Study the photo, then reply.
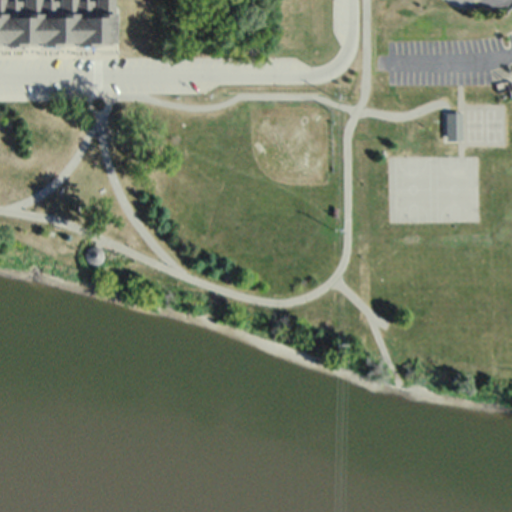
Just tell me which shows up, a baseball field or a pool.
baseball field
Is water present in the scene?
Yes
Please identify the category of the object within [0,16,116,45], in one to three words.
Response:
building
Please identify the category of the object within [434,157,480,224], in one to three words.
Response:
basketball court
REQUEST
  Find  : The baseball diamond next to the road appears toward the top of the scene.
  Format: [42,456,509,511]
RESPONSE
[252,103,330,187]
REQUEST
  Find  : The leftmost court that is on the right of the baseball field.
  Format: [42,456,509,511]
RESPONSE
[389,157,434,224]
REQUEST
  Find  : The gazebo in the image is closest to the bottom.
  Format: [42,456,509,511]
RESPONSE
[86,246,106,266]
